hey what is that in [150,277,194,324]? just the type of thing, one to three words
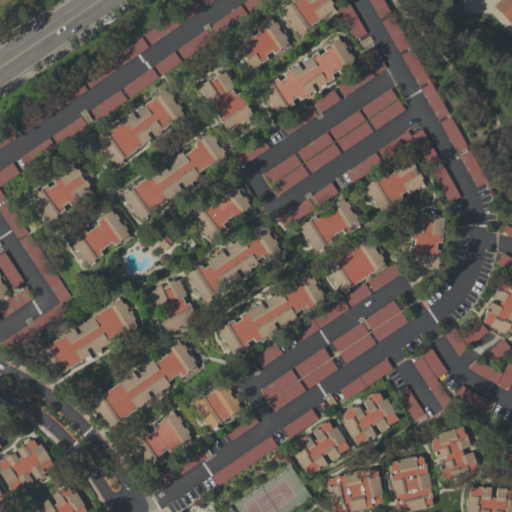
house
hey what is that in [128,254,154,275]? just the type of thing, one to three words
swimming pool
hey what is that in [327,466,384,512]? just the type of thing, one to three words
house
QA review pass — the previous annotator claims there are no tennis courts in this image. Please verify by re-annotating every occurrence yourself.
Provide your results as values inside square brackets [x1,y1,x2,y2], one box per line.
[229,467,310,512]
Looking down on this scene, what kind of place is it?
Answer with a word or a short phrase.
residential area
